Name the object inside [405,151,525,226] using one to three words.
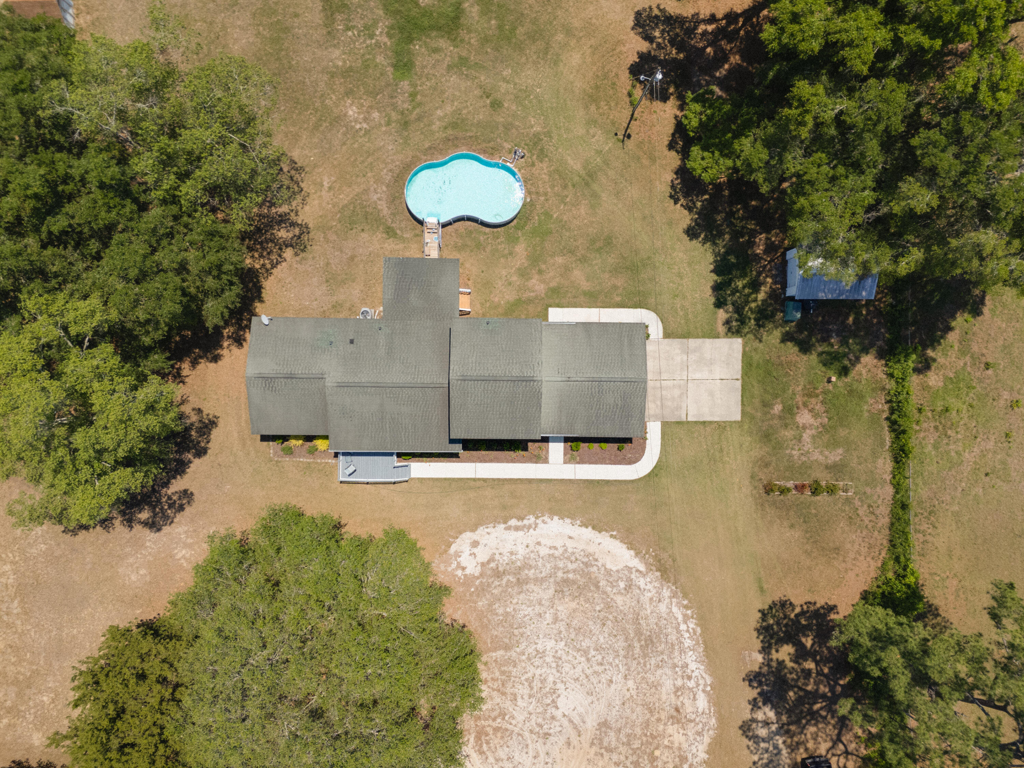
swimming pool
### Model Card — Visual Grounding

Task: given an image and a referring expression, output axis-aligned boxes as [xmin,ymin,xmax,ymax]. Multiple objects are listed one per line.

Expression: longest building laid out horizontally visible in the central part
[246,257,647,453]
